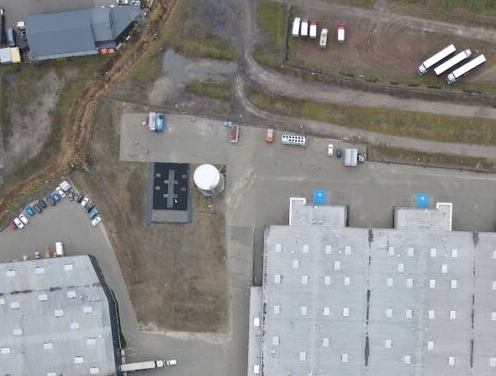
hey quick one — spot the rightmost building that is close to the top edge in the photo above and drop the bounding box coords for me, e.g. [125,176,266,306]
[92,2,146,48]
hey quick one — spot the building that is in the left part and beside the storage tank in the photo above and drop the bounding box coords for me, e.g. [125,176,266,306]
[146,163,193,224]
